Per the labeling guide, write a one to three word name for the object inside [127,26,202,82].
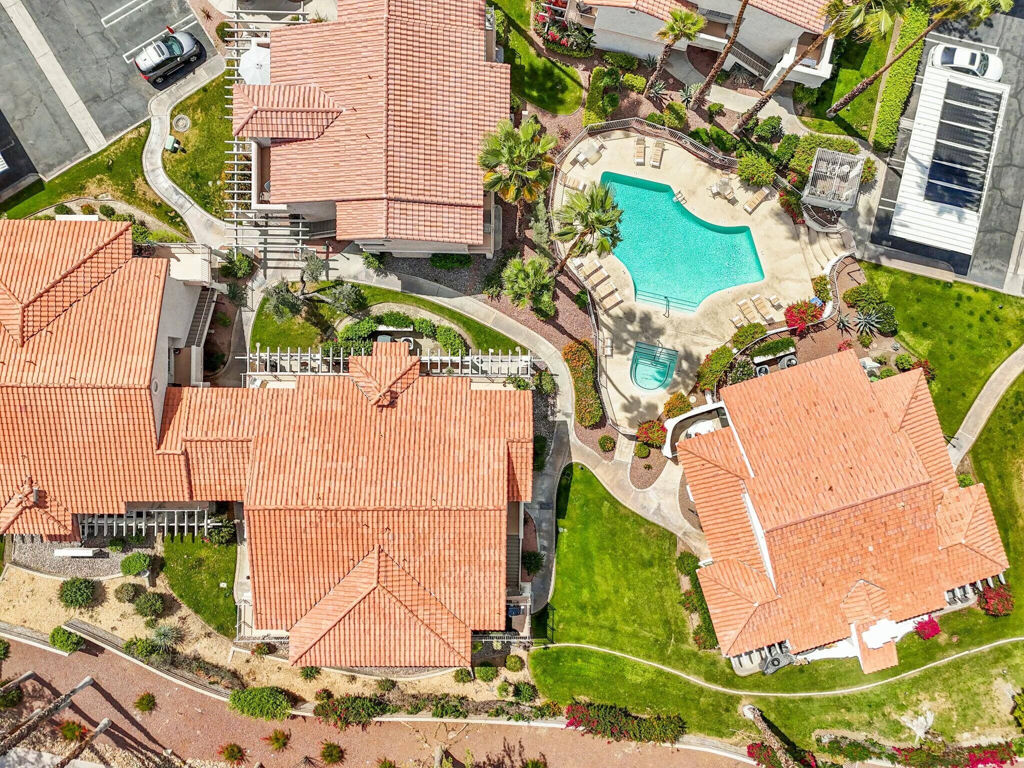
car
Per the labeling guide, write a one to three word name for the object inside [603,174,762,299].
swimming pool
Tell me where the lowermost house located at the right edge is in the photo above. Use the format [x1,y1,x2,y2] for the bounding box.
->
[655,349,1012,673]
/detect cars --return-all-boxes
[920,42,1000,81]
[127,26,202,82]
